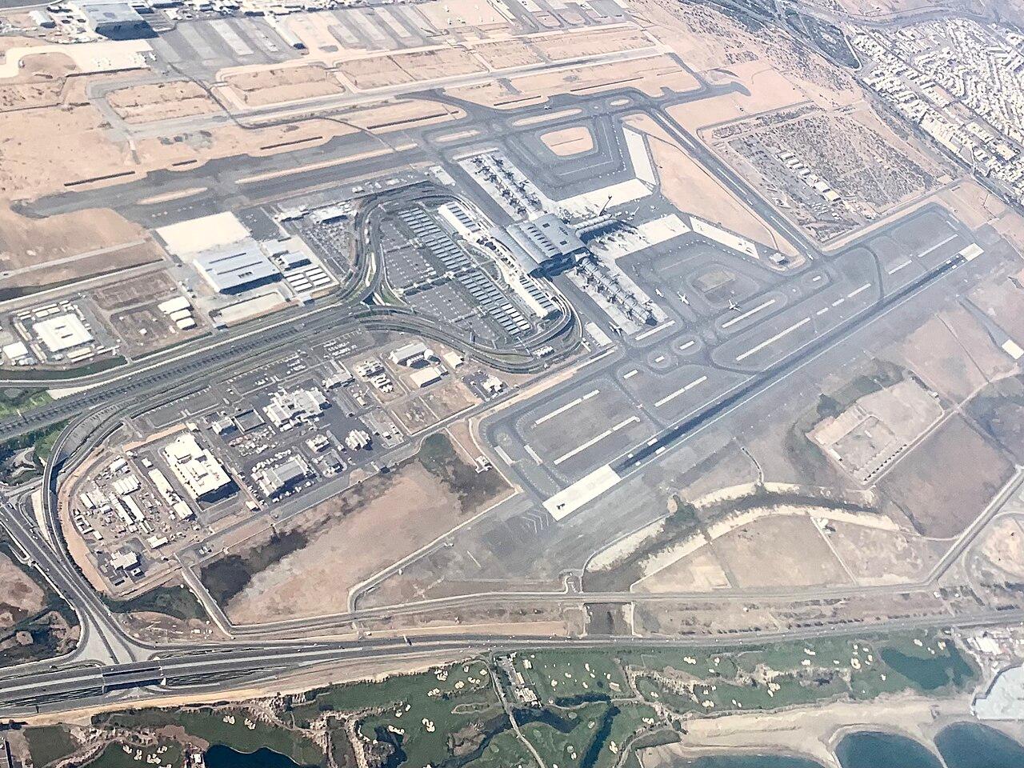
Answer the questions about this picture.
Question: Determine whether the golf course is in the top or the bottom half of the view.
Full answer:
Seen from above, the golf course lies in the bottom half of the view.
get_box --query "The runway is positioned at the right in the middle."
[543,242,985,521]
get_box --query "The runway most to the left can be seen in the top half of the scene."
[240,46,672,127]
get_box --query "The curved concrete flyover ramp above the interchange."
[43,379,165,599]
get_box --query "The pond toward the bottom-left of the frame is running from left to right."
[197,744,309,768]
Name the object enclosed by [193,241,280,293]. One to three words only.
hangar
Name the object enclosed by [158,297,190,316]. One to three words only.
shed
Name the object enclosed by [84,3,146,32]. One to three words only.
hangar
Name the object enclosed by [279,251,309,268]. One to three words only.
building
